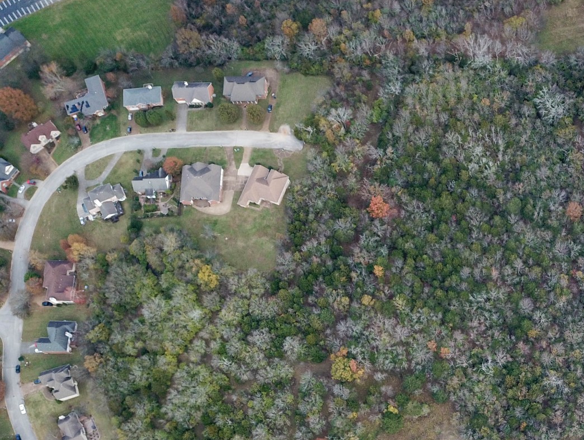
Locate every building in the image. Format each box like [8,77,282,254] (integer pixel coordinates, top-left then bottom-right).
[177,162,224,208]
[169,82,213,106]
[58,412,101,440]
[123,85,163,110]
[222,77,266,104]
[239,166,290,208]
[21,120,63,151]
[0,26,31,68]
[83,184,129,222]
[34,319,79,353]
[38,364,84,401]
[130,168,171,200]
[45,258,78,305]
[64,75,112,120]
